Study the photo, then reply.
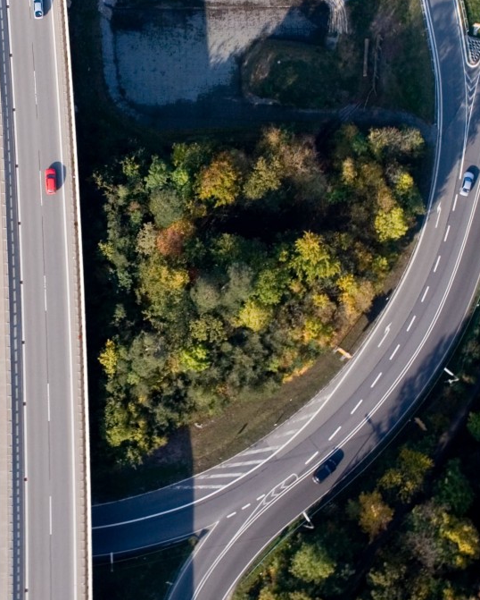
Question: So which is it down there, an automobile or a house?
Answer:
automobile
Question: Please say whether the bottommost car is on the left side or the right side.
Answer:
right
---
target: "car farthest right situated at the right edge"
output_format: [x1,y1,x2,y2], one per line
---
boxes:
[459,171,475,197]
